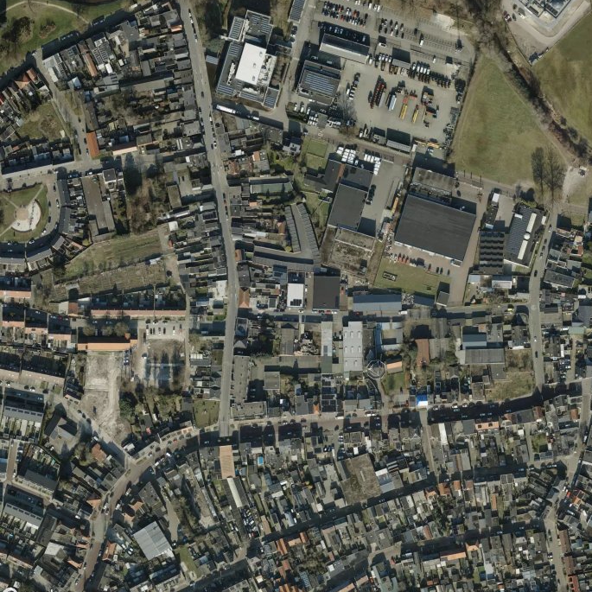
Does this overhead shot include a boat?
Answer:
No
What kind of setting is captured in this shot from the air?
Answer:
residential area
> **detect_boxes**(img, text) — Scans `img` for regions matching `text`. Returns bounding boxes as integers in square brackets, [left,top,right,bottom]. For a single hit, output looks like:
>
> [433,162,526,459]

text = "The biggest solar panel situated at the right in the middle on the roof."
[508,216,529,255]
